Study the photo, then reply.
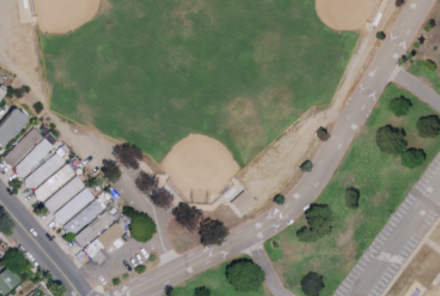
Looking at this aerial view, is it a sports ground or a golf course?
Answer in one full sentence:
It's a sports ground.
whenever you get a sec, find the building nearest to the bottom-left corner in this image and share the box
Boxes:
[0,268,20,296]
